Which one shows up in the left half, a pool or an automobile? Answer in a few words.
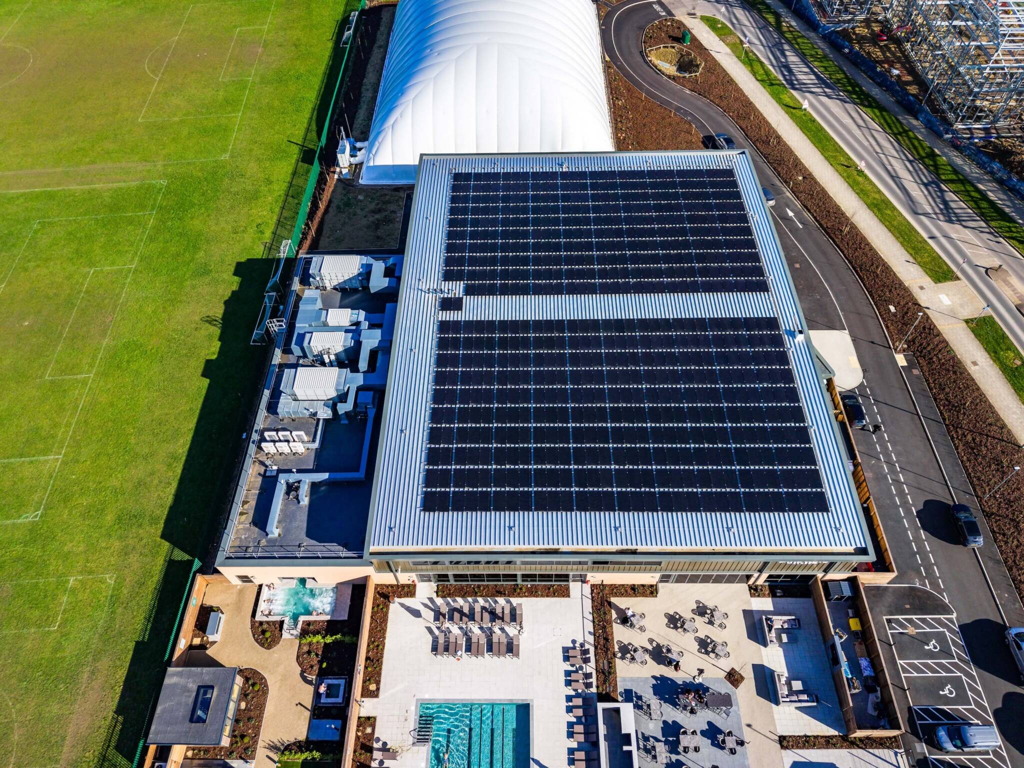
pool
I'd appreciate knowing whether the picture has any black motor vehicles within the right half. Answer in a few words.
Yes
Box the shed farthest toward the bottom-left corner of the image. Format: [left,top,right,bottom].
[146,667,242,747]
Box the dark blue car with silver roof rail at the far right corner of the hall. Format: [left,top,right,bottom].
[708,135,735,152]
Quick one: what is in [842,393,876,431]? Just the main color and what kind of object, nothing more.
black car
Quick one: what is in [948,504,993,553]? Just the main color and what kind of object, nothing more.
black car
